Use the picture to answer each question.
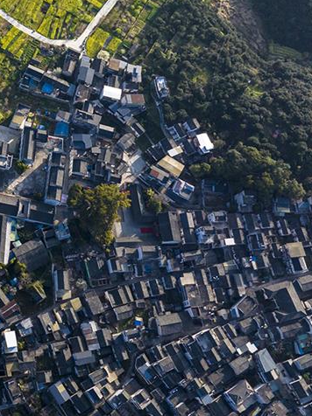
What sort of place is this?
residential area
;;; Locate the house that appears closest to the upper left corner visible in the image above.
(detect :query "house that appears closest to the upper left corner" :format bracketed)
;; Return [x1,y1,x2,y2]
[21,65,44,85]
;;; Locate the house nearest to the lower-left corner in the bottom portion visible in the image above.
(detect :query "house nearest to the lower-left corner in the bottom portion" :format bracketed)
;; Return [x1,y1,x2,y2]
[0,375,23,400]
